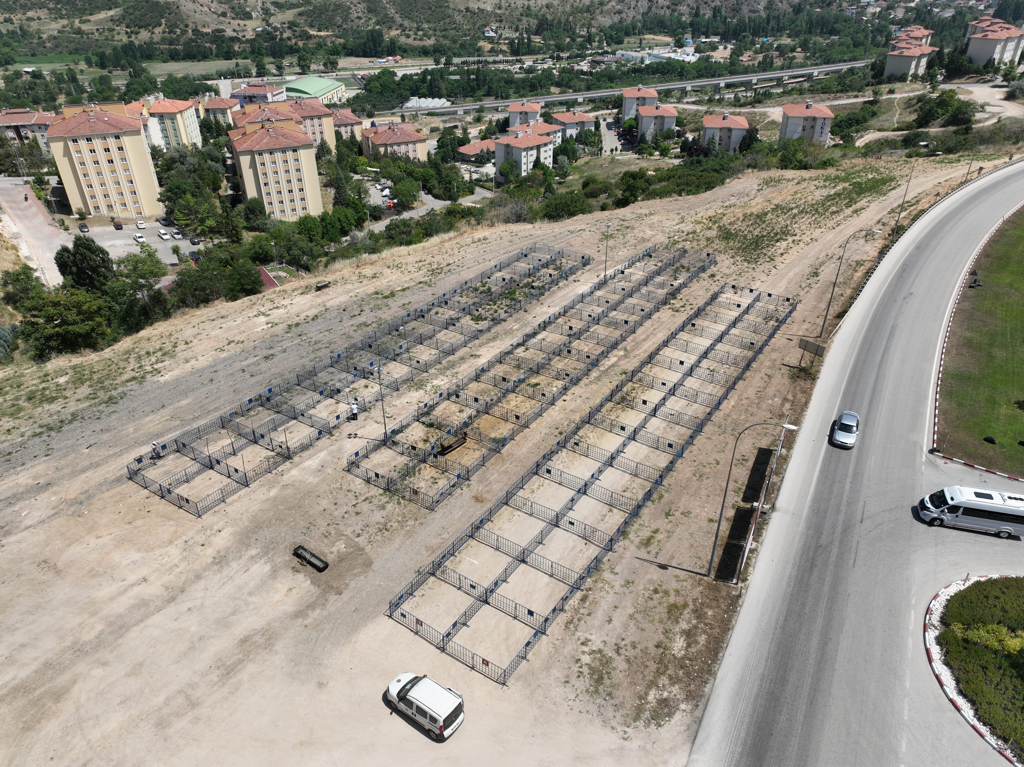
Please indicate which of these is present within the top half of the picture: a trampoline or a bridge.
bridge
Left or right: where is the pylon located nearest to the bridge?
left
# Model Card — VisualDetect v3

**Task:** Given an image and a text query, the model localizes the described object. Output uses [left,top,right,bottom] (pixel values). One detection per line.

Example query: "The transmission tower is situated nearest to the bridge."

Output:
[260,239,282,285]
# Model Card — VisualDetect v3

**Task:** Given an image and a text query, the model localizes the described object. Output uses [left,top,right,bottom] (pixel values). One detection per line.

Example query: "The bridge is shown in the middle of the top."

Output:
[349,54,882,120]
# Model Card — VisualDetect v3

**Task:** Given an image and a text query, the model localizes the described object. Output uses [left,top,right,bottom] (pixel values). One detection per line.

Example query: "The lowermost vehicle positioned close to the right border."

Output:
[919,483,1024,538]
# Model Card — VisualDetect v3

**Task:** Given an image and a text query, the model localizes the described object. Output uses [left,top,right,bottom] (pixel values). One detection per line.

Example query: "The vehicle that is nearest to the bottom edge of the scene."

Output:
[385,671,469,747]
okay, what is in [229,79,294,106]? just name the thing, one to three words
building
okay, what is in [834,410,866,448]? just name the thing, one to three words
car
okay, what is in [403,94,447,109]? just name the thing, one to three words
greenhouse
